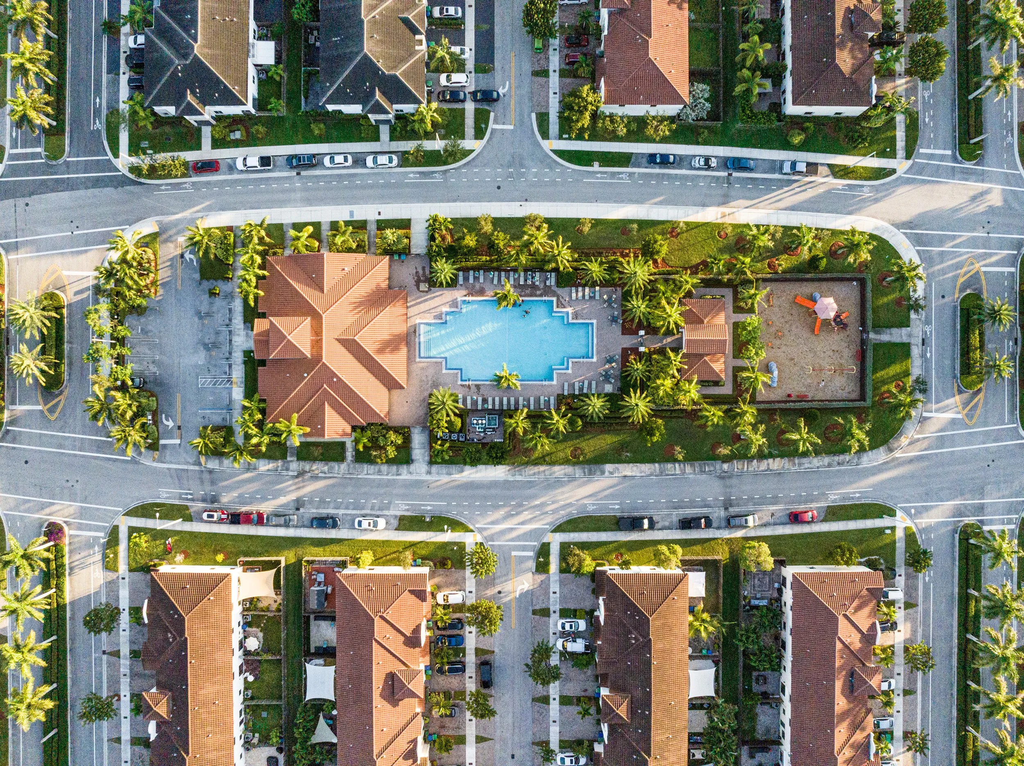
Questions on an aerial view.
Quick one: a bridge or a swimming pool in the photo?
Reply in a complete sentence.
It is a swimming pool that can be seen here.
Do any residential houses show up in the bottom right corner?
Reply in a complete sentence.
Yes, I can see a residential house in the bottom right corner.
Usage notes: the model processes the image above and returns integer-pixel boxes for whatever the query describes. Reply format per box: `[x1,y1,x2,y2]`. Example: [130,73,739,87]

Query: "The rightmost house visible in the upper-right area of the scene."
[781,0,883,116]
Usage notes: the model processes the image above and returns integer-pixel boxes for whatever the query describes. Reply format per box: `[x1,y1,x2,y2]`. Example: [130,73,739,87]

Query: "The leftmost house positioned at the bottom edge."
[141,565,244,766]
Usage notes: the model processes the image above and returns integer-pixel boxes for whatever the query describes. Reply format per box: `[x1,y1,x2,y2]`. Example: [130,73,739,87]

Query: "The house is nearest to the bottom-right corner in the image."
[781,566,883,766]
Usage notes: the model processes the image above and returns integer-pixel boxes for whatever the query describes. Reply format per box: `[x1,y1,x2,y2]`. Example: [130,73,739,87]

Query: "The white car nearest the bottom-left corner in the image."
[203,509,230,522]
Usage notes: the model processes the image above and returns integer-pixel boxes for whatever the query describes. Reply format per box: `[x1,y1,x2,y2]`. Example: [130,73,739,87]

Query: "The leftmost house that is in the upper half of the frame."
[144,0,260,125]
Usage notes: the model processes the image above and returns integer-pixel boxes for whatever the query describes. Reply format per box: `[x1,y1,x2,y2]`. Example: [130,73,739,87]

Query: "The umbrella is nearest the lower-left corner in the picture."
[244,637,260,652]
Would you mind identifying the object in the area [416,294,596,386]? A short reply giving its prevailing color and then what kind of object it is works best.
blue swimming pool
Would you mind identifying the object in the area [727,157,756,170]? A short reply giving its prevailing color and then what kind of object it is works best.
blue vehicle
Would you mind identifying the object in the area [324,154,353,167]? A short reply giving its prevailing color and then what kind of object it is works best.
white vehicle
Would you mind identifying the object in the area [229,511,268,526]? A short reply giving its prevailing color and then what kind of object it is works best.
red vehicle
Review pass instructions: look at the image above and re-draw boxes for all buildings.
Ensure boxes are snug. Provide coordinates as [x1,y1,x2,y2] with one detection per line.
[781,566,883,766]
[335,567,431,766]
[251,249,408,438]
[680,298,731,381]
[141,565,244,766]
[595,0,689,115]
[781,0,883,116]
[593,567,689,766]
[318,0,426,123]
[144,0,260,125]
